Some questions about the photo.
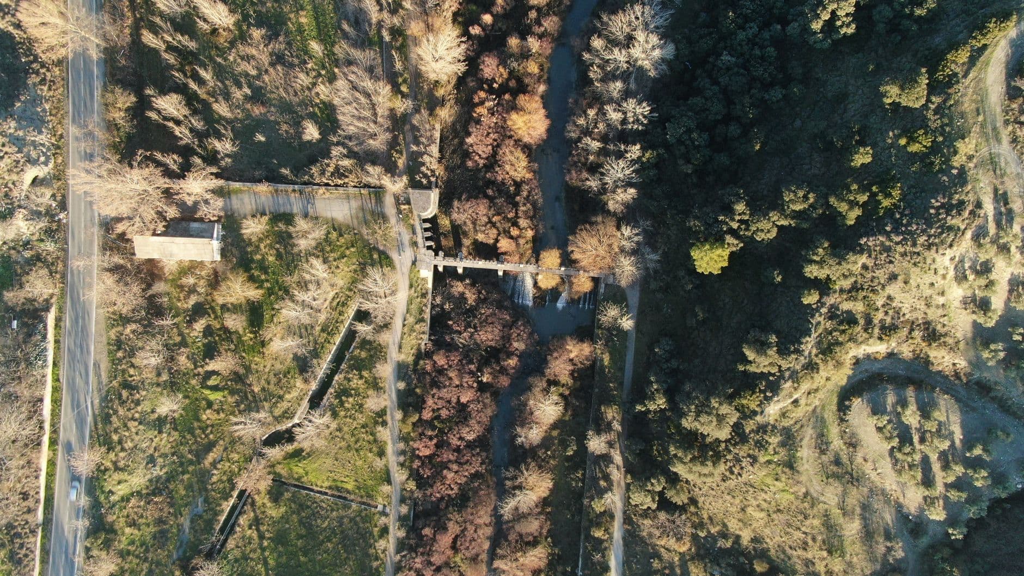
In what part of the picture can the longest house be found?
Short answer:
left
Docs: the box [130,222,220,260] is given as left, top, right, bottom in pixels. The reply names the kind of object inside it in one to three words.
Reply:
house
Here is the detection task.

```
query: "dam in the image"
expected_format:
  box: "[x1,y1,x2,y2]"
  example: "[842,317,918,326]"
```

[504,272,599,304]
